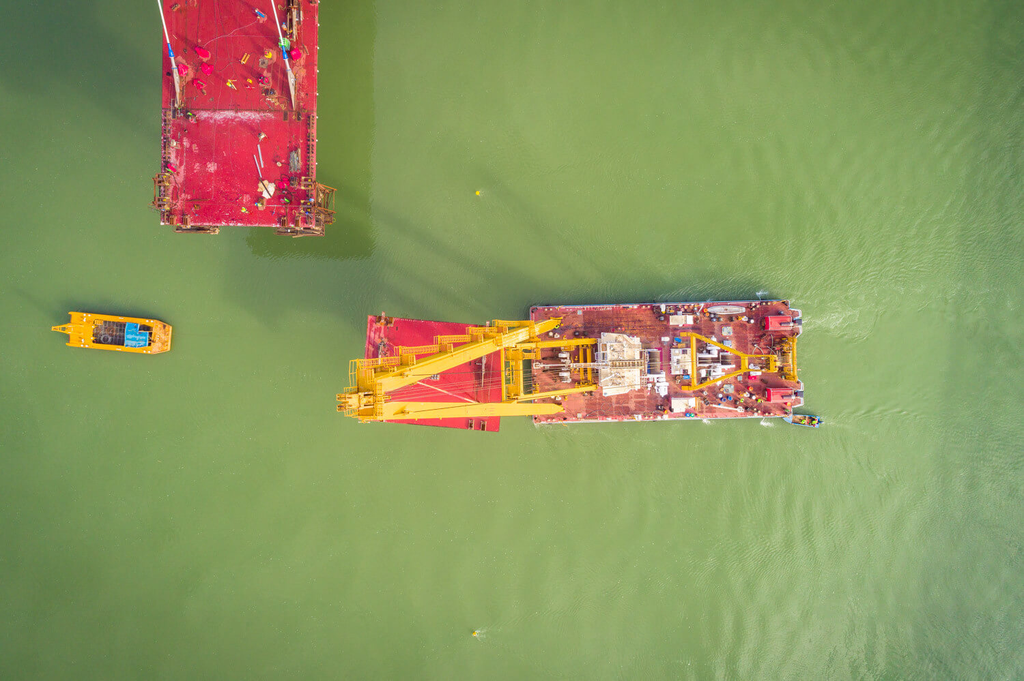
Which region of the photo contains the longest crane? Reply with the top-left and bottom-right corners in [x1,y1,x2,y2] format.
[336,318,787,423]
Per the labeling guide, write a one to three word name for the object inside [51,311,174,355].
boat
